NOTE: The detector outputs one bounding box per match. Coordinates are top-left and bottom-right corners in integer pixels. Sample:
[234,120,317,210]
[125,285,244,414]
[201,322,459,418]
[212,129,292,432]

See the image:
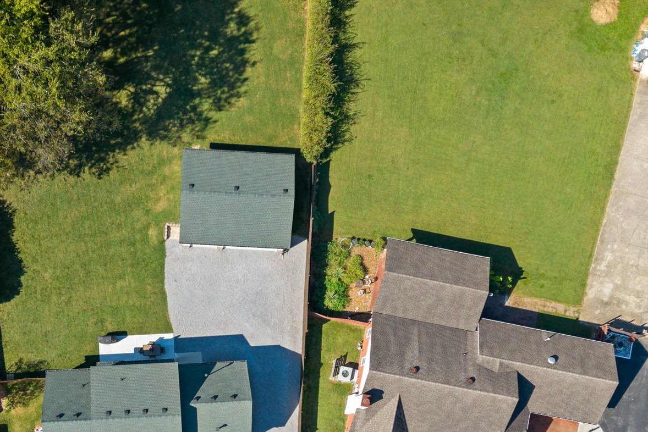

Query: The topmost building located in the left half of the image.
[179,147,295,257]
